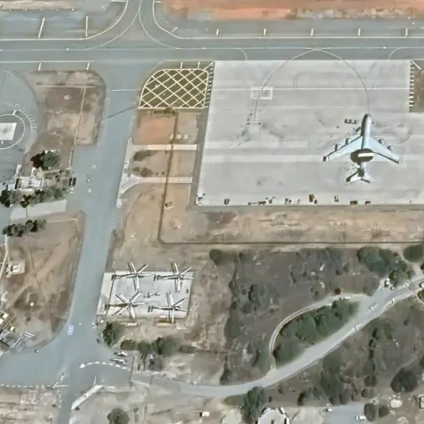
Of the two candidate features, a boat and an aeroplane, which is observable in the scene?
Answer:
aeroplane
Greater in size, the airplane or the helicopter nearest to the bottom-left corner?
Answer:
the airplane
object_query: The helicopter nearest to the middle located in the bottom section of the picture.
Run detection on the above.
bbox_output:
[153,259,196,291]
